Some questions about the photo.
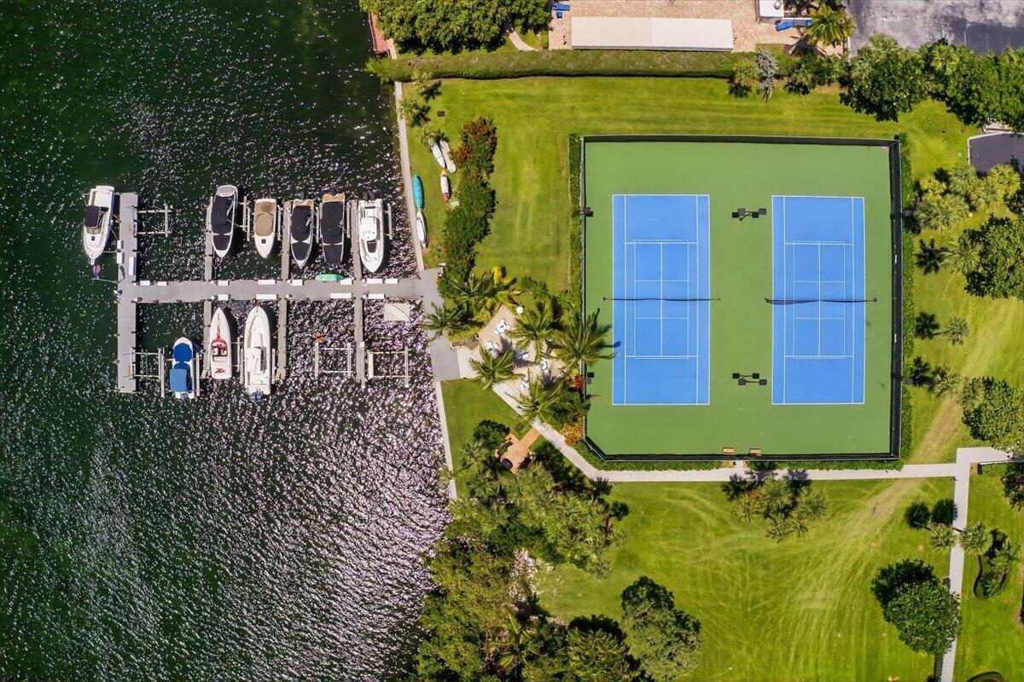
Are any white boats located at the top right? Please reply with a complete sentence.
No, I see no white boat at the top right.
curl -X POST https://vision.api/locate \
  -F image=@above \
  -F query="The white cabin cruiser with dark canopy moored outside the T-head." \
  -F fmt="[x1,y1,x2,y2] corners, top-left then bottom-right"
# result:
[83,184,119,265]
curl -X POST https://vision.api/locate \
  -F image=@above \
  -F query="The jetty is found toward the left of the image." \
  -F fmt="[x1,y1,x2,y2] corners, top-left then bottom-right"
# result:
[115,193,460,393]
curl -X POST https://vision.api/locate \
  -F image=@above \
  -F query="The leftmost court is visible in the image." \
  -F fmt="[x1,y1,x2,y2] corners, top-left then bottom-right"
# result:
[584,142,741,457]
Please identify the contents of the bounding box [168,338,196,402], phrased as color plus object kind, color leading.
blue boat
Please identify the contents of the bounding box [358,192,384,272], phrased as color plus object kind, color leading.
white boat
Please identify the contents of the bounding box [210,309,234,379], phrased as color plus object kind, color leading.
white boat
